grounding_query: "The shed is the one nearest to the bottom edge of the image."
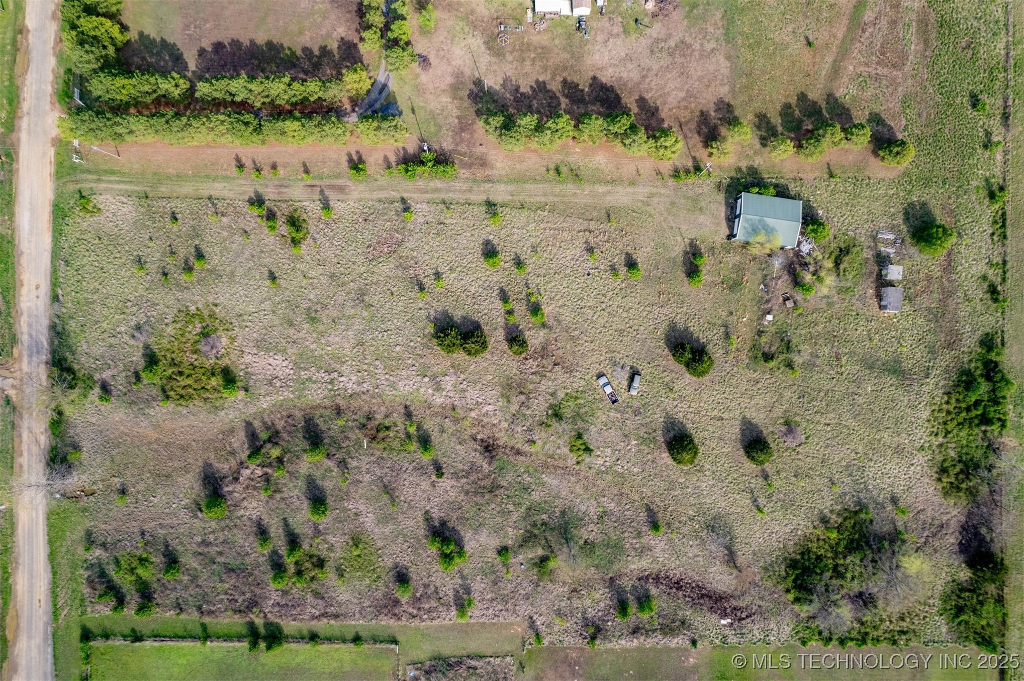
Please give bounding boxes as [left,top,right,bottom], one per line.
[875,289,901,314]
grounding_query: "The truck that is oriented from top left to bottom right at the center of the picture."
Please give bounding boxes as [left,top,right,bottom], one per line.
[597,375,620,406]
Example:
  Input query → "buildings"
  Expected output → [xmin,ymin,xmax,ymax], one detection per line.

[876,265,902,280]
[731,192,803,248]
[875,289,901,314]
[573,0,590,21]
[535,0,572,15]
